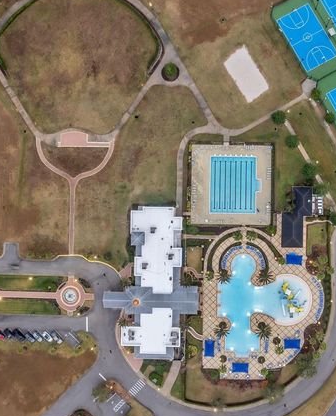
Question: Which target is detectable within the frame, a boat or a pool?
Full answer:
This aerial view contains a pool.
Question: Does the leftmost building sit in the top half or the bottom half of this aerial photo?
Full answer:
The bottom half of the photo is where the leftmost building is.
